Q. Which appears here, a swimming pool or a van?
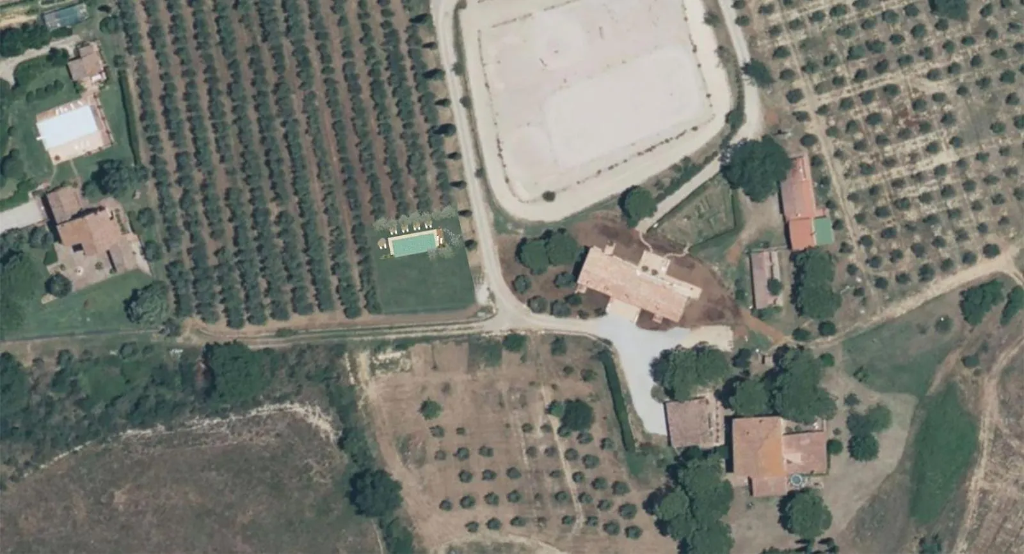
swimming pool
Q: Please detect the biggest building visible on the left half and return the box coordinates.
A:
[47,186,129,271]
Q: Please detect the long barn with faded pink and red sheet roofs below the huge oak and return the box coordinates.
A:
[781,156,826,220]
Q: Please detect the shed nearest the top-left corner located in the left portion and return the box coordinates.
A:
[44,3,88,27]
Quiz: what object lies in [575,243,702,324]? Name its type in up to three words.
house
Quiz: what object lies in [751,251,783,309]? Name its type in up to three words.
shed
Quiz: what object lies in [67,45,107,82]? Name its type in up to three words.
building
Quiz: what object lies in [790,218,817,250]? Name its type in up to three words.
barn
